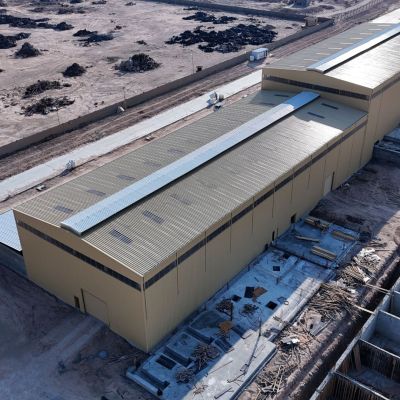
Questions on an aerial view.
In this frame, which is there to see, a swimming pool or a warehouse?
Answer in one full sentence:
Of the two, only a warehouse appears.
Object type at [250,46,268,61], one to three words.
vehicle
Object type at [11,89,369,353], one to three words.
warehouse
